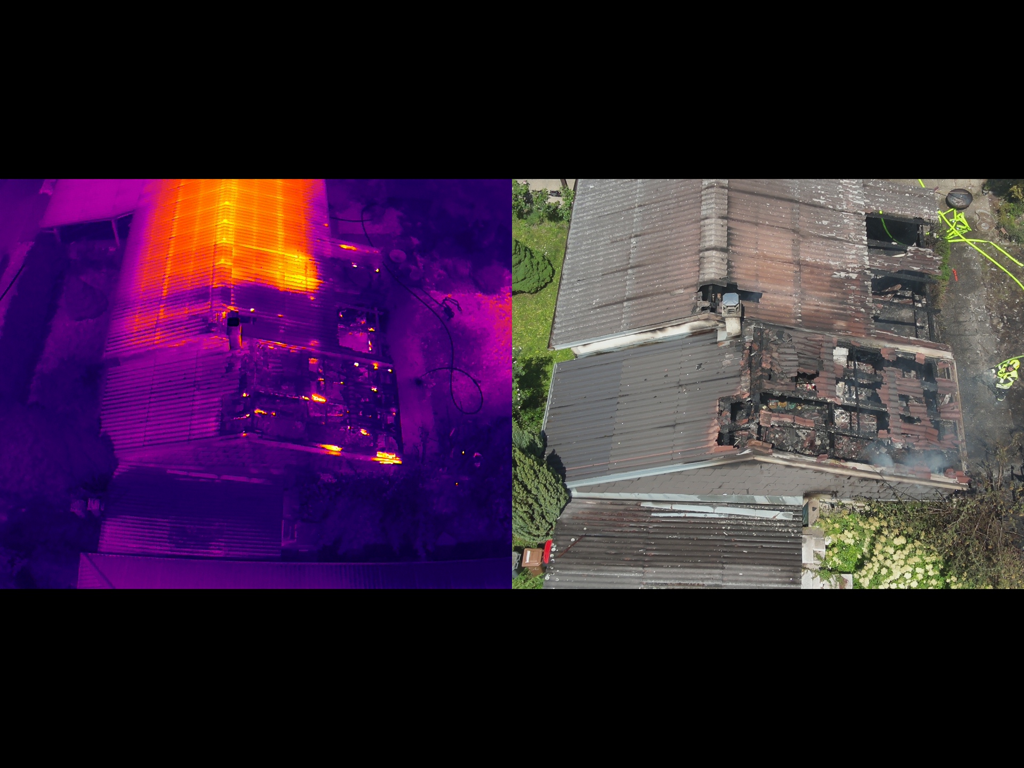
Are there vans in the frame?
No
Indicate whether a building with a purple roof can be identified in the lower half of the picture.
Yes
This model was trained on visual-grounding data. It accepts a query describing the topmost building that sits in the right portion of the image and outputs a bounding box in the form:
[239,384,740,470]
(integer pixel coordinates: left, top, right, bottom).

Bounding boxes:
[545,179,955,406]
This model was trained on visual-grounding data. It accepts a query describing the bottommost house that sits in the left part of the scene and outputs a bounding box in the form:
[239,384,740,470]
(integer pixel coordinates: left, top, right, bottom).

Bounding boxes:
[68,553,512,589]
